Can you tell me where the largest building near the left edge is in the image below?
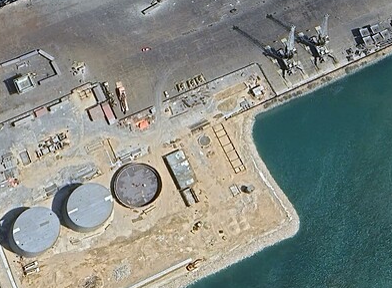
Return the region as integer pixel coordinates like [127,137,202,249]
[10,74,34,97]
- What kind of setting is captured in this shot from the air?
industrial area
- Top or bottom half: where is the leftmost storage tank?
bottom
